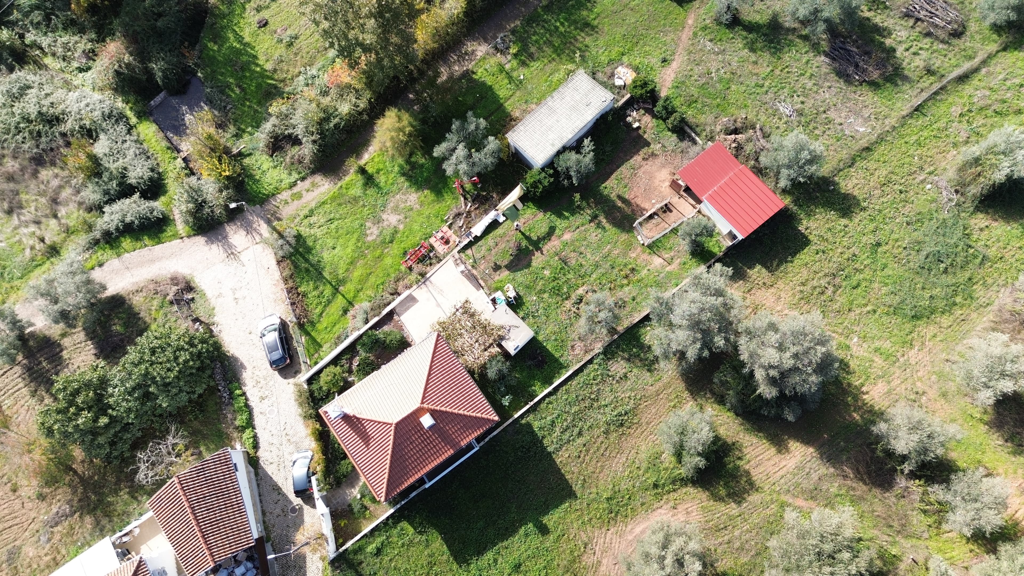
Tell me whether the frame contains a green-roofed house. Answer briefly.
No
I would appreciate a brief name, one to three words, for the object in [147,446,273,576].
house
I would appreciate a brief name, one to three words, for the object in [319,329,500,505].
house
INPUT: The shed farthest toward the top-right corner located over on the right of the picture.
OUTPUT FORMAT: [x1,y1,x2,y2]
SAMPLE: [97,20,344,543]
[677,141,785,245]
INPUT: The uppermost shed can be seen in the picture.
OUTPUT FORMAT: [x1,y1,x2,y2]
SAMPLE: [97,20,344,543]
[507,67,612,173]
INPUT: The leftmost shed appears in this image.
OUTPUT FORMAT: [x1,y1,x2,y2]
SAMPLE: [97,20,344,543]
[48,535,127,576]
